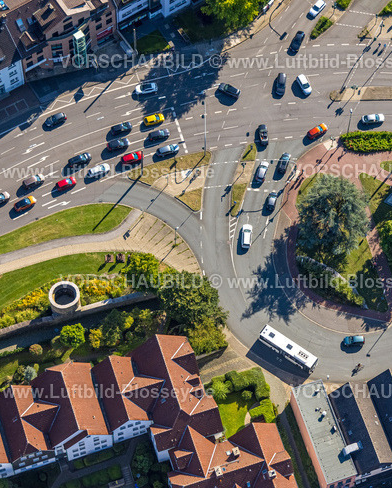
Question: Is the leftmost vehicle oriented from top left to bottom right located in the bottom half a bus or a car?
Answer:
bus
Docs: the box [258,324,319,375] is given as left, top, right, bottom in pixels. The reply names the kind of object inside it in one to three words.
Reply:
bus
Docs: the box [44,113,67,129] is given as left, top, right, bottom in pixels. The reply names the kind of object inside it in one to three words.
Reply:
car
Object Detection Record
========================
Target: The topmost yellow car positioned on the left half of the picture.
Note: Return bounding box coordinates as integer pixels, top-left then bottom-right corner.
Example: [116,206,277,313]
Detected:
[143,113,165,126]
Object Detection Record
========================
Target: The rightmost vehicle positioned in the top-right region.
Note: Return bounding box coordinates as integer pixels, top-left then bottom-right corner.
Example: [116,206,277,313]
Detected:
[361,112,384,124]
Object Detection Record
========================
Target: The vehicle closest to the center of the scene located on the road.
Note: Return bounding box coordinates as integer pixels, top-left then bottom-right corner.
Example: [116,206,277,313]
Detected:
[241,224,253,249]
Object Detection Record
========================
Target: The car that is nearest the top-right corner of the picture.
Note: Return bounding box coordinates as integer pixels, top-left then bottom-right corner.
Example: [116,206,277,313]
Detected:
[309,0,326,17]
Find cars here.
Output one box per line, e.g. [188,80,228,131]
[135,82,158,96]
[241,224,253,249]
[110,122,133,136]
[156,142,180,156]
[67,152,92,168]
[361,112,384,124]
[143,113,165,126]
[309,0,326,17]
[85,163,111,179]
[216,83,242,100]
[44,113,67,129]
[255,162,269,184]
[257,126,268,147]
[53,176,77,193]
[275,73,286,96]
[290,30,304,53]
[296,75,311,95]
[266,192,278,213]
[343,335,365,347]
[147,128,171,142]
[13,196,36,212]
[120,150,144,164]
[0,190,11,204]
[106,137,130,151]
[306,124,327,139]
[23,174,45,189]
